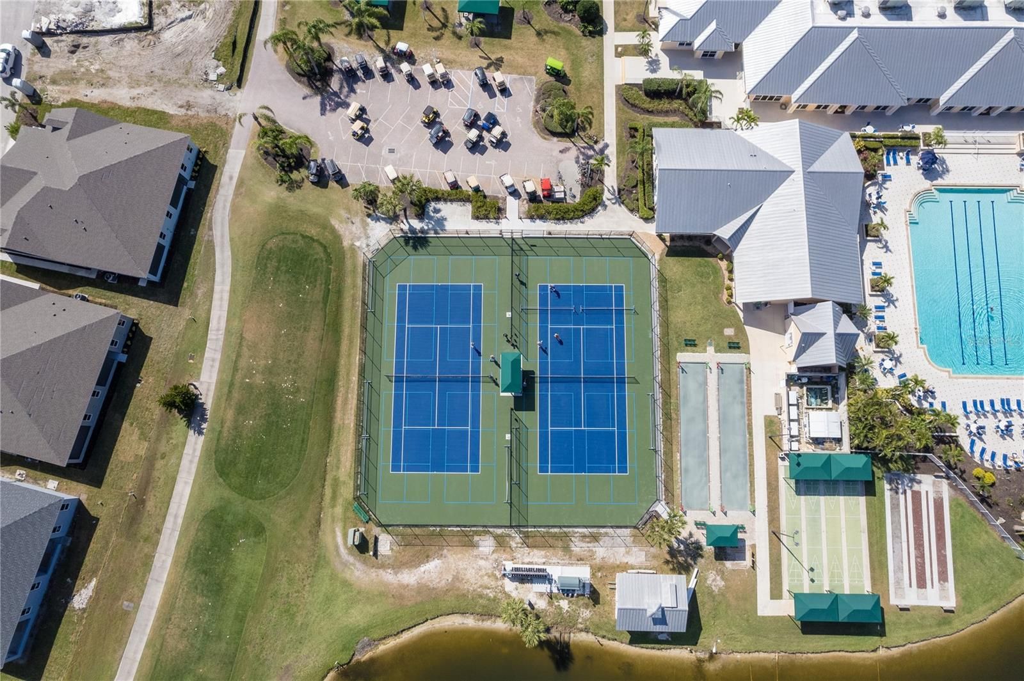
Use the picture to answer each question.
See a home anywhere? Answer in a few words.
Yes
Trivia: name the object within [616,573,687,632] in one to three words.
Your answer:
shed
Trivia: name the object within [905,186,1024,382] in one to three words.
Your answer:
swimming pool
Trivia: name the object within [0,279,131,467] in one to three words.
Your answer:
house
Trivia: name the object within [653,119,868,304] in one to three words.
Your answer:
building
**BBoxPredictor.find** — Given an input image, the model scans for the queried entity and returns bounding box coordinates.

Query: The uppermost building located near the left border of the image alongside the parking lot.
[0,107,199,282]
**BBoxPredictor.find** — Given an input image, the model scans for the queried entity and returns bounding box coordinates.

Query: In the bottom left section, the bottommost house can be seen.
[0,478,79,671]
